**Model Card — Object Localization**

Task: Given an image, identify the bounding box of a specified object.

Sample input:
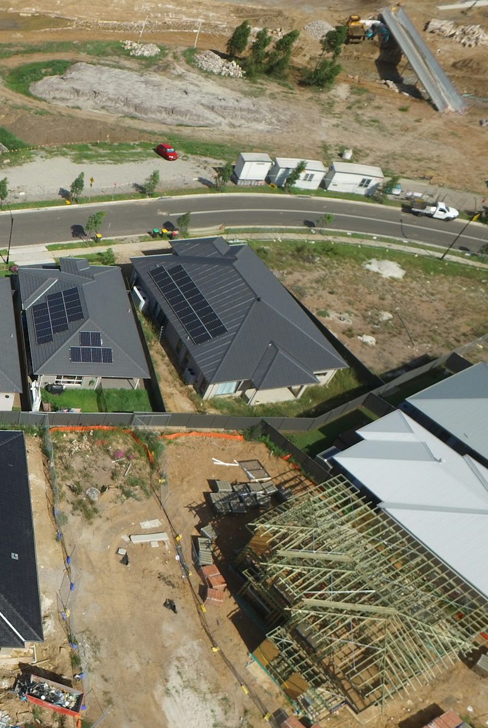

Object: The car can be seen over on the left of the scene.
[155,142,180,160]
